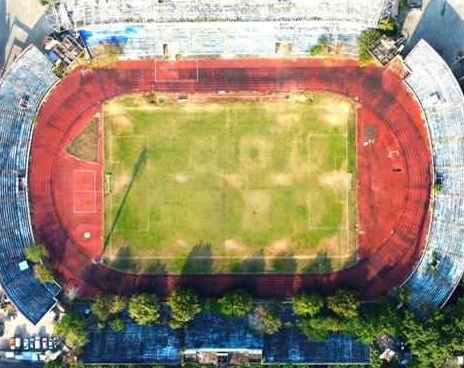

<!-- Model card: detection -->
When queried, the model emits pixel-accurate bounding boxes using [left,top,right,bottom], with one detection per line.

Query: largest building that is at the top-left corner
[54,34,89,64]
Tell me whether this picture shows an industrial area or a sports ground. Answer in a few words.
sports ground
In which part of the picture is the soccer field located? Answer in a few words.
center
